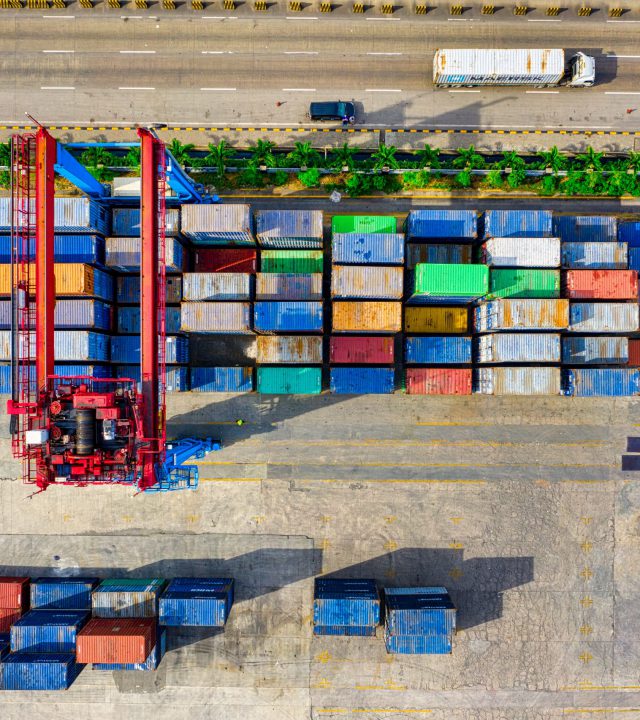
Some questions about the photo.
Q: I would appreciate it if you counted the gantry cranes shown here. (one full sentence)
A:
In total, there is 1 gantry crane in the scene.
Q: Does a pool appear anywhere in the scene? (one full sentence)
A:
No, there appears to be no pool in this shot.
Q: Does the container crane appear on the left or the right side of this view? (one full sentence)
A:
The container crane is on the left side of the image.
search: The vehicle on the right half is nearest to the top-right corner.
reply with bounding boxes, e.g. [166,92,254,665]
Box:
[532,53,590,88]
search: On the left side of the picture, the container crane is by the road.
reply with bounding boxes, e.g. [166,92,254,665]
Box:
[8,112,224,502]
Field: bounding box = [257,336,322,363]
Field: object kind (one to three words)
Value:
shipping container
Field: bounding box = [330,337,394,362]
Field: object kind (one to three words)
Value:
shipping container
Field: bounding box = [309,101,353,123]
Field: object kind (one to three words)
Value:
vehicle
